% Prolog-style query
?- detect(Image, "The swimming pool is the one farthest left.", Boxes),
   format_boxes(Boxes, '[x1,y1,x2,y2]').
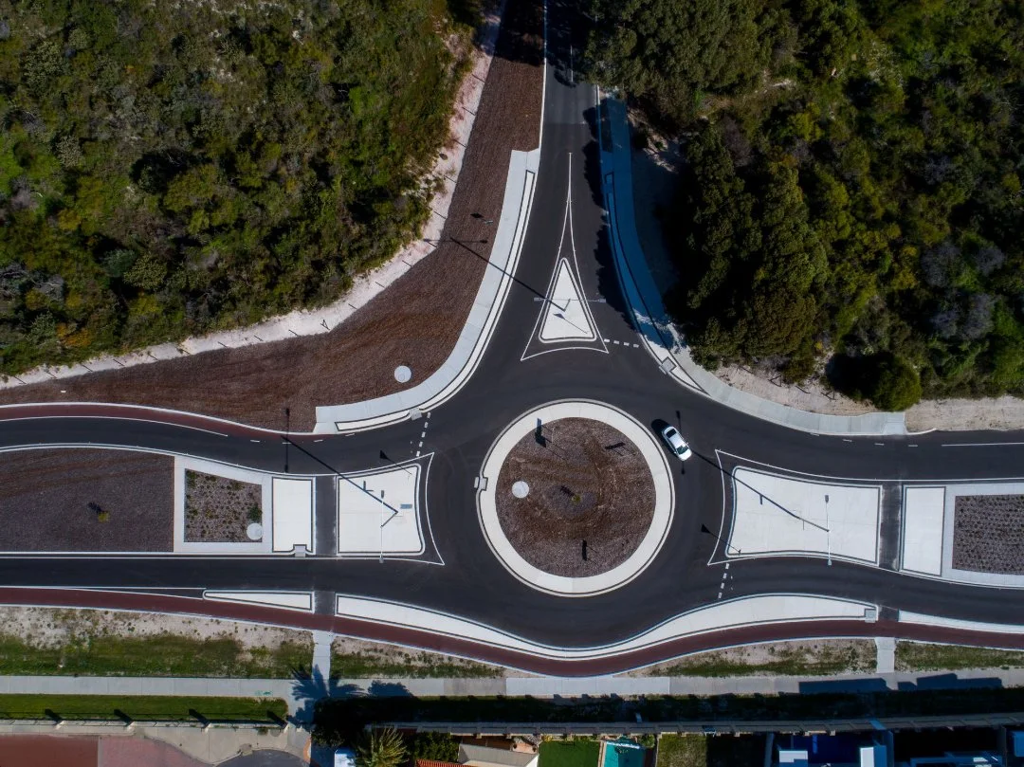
[602,739,656,767]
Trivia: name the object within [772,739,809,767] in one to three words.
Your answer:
house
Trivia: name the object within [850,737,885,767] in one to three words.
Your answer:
house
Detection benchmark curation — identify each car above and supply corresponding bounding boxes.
[663,427,693,461]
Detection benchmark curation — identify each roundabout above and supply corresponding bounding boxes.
[421,312,747,648]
